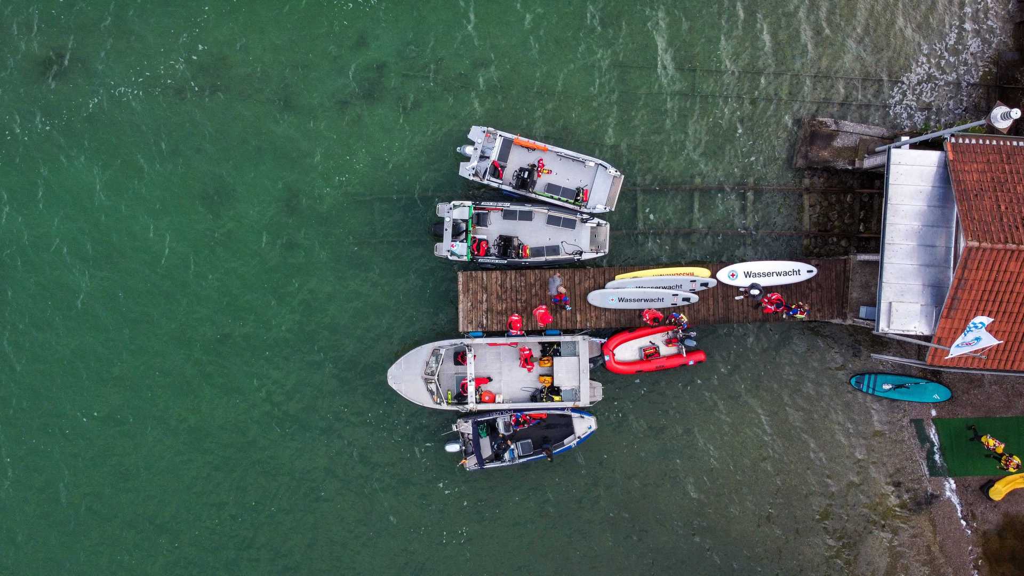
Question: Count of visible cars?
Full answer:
There are no cars in the image.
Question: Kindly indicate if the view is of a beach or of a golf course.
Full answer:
It's a beach.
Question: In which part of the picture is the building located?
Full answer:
Look in the right portion of the view to spot the building.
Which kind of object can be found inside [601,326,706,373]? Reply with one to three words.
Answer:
boat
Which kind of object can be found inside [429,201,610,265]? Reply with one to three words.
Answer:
boat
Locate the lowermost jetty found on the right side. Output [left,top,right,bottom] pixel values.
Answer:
[458,257,847,332]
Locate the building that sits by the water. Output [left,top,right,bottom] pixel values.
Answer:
[874,131,1024,372]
